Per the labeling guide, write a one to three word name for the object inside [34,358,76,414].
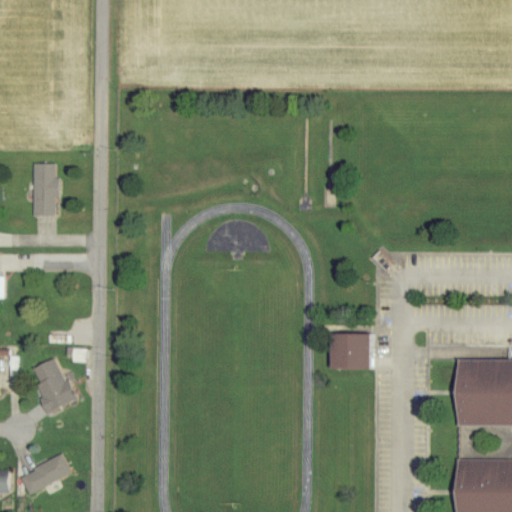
house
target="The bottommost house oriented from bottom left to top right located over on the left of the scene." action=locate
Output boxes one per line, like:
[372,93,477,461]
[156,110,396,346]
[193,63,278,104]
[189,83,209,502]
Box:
[21,454,72,496]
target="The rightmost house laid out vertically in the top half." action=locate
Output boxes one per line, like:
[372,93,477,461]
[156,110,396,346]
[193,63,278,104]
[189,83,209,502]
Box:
[34,164,58,216]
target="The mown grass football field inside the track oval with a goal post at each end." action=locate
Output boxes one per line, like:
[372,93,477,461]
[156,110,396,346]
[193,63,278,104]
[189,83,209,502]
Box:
[182,262,292,512]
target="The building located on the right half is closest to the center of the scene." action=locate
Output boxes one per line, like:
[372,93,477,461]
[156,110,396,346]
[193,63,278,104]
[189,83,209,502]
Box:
[330,333,374,370]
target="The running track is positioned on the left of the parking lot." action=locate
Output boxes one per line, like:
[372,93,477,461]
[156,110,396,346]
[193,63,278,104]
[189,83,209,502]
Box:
[160,203,314,512]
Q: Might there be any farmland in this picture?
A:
Yes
